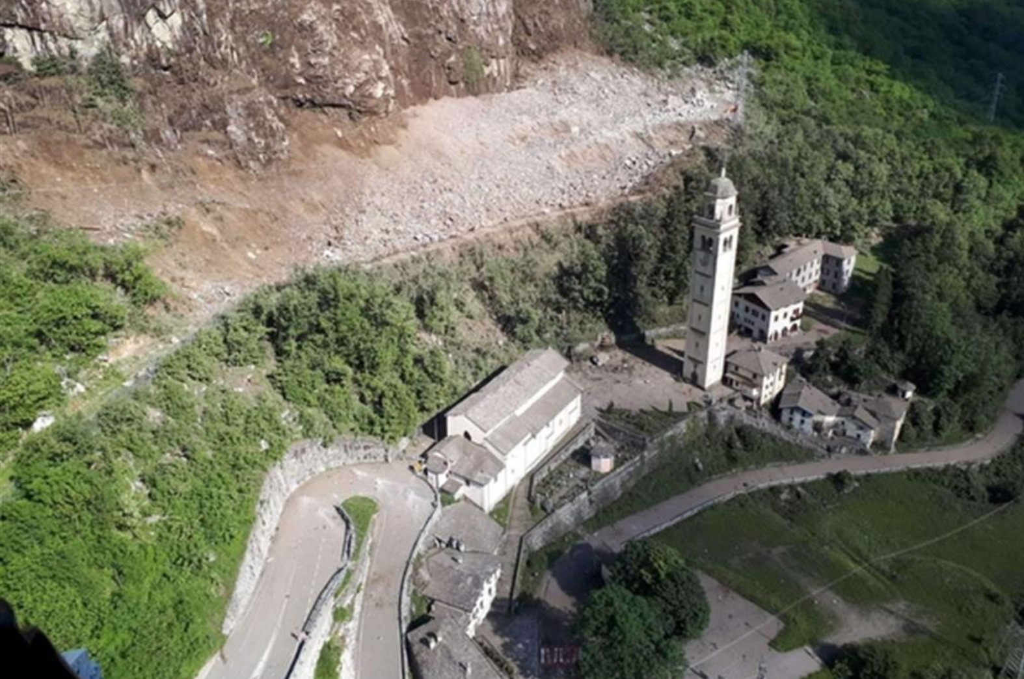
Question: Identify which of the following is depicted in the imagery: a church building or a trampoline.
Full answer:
The image shows a church building.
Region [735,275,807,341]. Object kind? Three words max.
house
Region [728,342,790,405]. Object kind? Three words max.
house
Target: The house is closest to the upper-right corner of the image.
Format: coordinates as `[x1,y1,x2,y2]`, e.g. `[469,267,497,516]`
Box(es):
[810,231,862,293]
